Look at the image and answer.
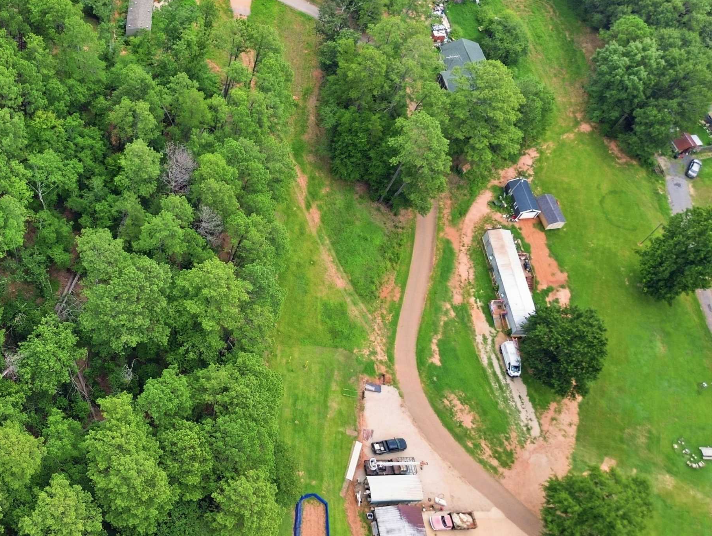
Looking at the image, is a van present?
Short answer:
Yes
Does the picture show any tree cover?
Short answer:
Yes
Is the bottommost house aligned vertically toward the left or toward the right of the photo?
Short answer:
right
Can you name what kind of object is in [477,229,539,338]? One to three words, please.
house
